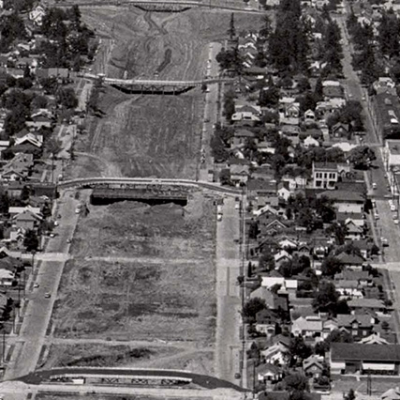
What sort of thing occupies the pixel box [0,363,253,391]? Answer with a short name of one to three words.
overpass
